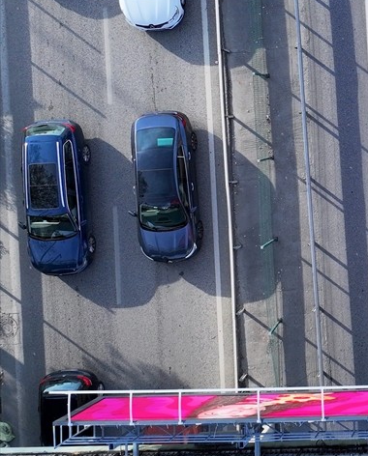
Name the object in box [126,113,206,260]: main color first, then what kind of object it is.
black car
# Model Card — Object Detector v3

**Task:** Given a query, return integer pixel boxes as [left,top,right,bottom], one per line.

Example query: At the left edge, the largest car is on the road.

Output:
[9,124,100,273]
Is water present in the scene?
No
